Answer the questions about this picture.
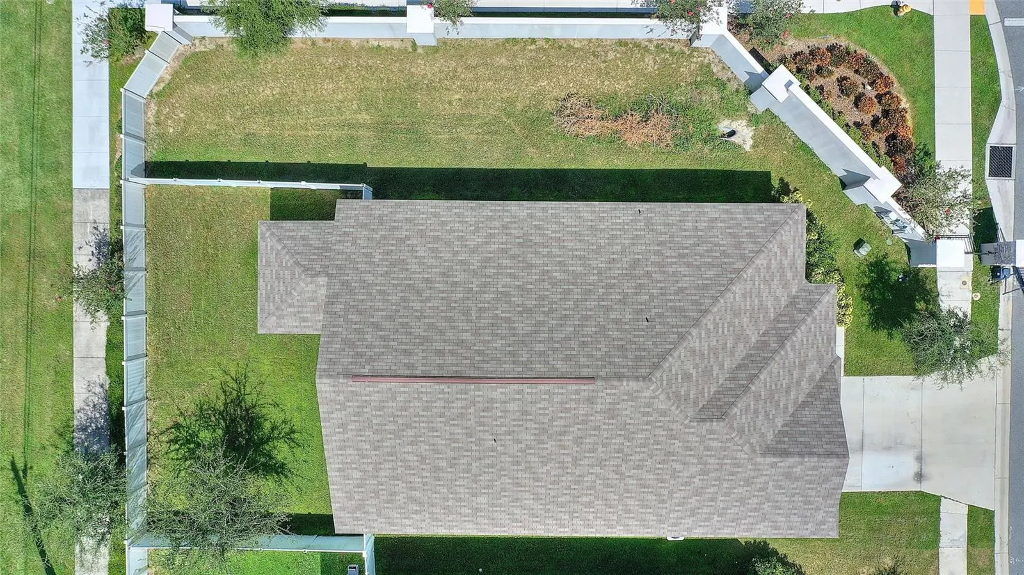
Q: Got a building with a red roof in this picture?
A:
No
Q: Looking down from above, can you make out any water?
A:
No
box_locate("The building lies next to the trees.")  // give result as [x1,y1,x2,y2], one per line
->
[255,200,849,539]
